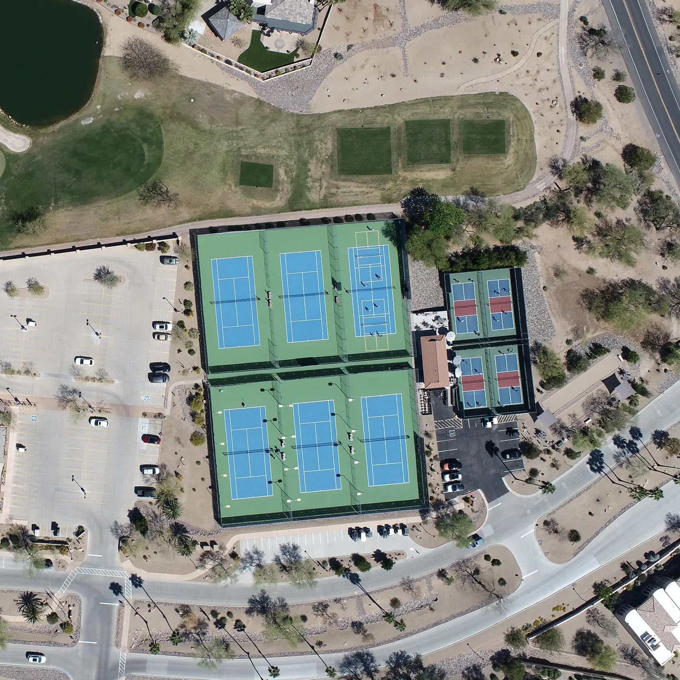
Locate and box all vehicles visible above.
[150,364,169,372]
[141,466,159,476]
[35,527,41,537]
[135,488,156,499]
[75,357,94,366]
[154,333,172,341]
[161,255,180,265]
[395,526,402,537]
[154,322,173,330]
[440,460,459,470]
[365,528,372,538]
[441,471,460,481]
[482,418,490,427]
[350,531,358,542]
[500,450,520,459]
[358,531,366,540]
[465,534,484,549]
[27,654,47,663]
[444,482,463,490]
[29,321,37,327]
[379,528,387,538]
[401,526,409,536]
[91,419,109,427]
[149,375,168,383]
[142,434,160,444]
[387,526,394,537]
[489,416,497,425]
[501,428,520,438]
[18,446,27,452]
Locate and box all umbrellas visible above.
[452,369,464,379]
[452,356,463,367]
[445,330,456,342]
